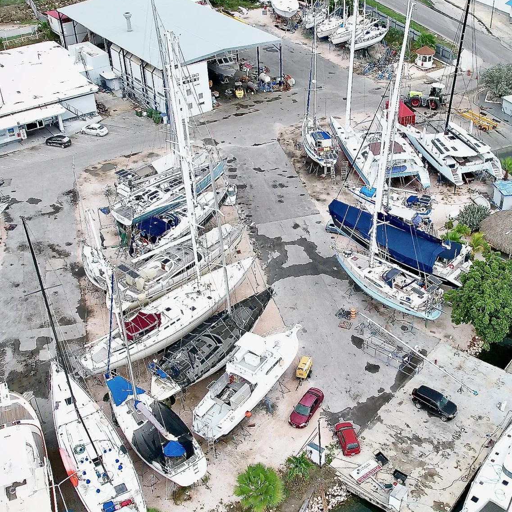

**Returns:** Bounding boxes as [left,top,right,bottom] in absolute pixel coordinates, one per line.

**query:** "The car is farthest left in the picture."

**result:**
[45,131,73,144]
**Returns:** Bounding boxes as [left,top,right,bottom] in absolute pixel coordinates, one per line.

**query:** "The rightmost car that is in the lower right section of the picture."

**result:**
[412,382,459,420]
